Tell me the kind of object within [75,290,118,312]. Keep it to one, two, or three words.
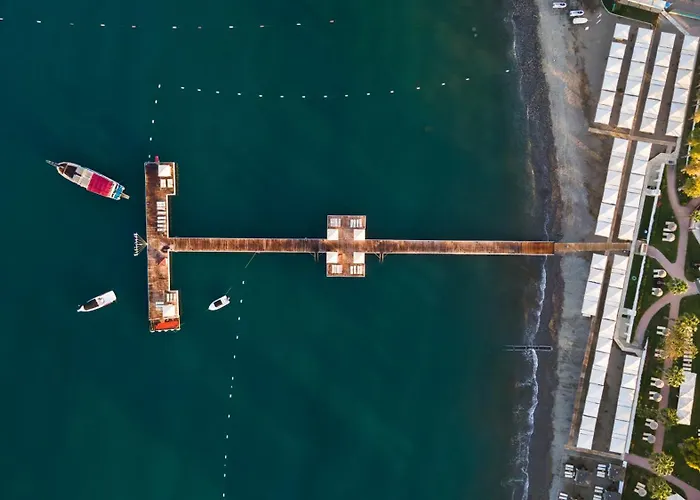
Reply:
boat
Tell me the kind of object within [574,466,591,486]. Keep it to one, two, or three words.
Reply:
umbrella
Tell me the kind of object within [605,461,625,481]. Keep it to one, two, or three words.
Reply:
umbrella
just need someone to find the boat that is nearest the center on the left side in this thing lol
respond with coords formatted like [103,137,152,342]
[208,295,230,311]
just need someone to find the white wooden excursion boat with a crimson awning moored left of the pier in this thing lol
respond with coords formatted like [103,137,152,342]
[44,159,133,200]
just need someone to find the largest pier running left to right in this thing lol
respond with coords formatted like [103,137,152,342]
[145,162,554,333]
